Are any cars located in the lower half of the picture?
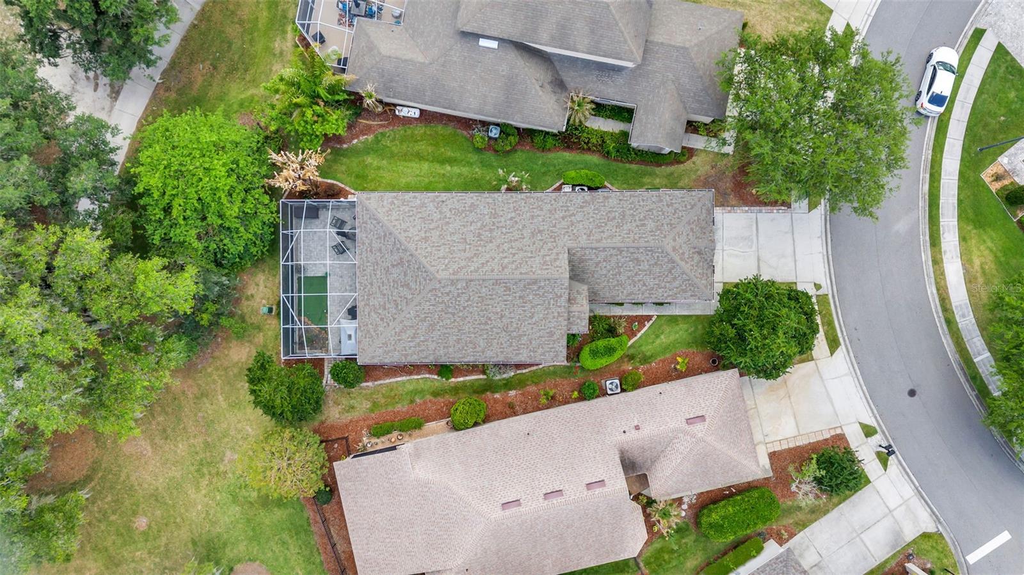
No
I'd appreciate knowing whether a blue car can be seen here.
No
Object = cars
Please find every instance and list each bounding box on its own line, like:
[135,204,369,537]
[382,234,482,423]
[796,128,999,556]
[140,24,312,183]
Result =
[912,45,960,119]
